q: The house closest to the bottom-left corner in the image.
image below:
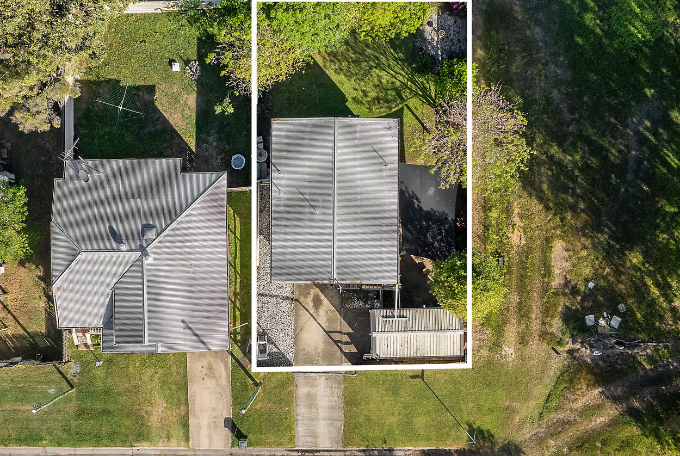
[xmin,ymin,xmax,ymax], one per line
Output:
[47,138,231,356]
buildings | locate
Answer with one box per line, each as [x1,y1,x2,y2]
[47,138,231,356]
[268,116,402,293]
[369,307,466,360]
